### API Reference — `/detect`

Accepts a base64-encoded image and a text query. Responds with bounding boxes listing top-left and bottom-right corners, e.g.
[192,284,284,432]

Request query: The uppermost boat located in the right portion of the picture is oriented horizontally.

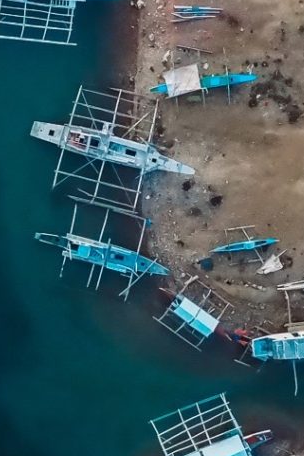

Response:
[171,6,223,22]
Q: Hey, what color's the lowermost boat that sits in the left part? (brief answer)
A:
blue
